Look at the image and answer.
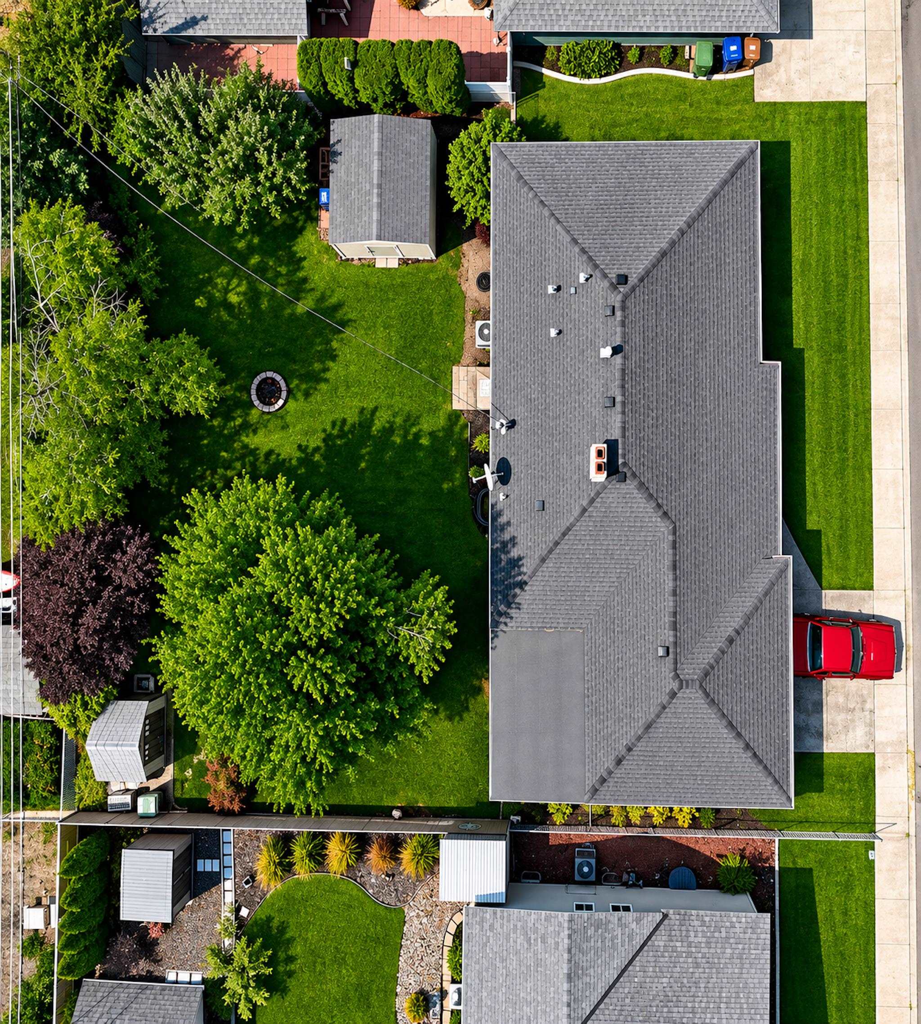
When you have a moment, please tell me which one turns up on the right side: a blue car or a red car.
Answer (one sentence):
There is a red car on the right side.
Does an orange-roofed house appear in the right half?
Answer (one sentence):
No, there's no orange-roofed house to be seen in the right half.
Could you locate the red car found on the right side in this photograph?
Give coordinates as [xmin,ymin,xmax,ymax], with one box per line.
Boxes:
[797,618,897,683]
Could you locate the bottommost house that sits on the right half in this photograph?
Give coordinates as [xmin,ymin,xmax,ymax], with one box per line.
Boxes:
[457,882,772,1024]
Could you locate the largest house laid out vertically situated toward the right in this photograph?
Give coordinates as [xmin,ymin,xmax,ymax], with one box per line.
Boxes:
[488,139,797,808]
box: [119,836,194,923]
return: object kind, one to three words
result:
shed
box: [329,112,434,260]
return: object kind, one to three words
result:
shed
